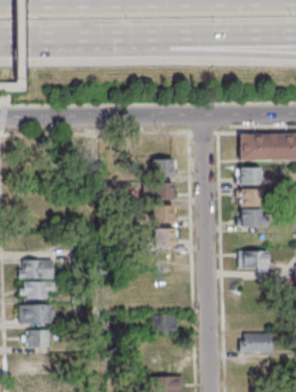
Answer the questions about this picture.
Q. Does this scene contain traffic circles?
No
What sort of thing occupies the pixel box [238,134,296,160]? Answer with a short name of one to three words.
building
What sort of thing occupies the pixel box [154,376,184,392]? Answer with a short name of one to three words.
house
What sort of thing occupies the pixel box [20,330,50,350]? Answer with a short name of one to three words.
house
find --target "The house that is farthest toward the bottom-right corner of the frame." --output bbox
[238,333,273,354]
